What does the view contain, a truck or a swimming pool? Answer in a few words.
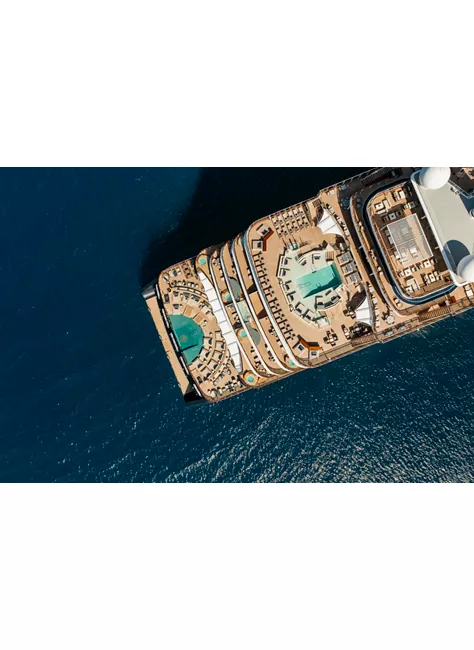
swimming pool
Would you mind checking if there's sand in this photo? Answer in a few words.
No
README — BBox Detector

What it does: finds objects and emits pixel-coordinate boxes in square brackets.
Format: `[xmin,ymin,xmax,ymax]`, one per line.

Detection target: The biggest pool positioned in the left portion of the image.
[169,314,204,364]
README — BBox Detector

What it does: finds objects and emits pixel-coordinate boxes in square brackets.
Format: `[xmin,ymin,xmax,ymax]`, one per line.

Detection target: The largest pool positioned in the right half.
[296,263,340,299]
